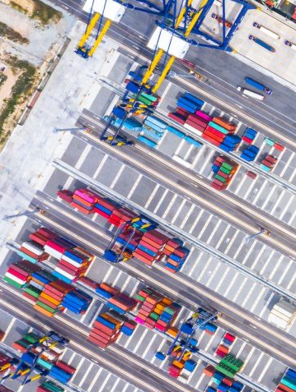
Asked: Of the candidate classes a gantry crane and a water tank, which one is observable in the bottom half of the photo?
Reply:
gantry crane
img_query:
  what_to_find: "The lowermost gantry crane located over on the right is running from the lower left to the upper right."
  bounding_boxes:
[161,302,215,360]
